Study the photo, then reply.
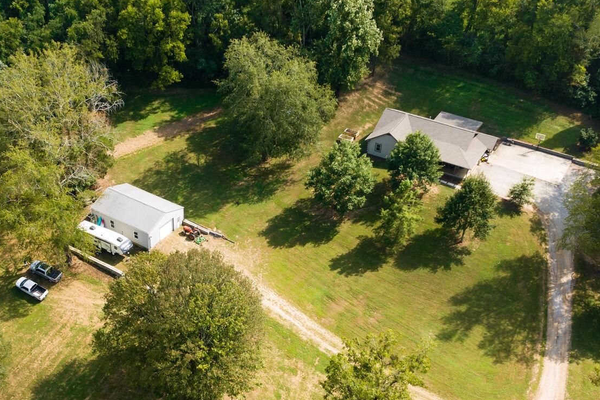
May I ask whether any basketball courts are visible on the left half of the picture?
No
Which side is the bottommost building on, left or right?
left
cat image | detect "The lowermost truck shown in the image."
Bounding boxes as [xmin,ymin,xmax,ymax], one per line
[14,278,52,304]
